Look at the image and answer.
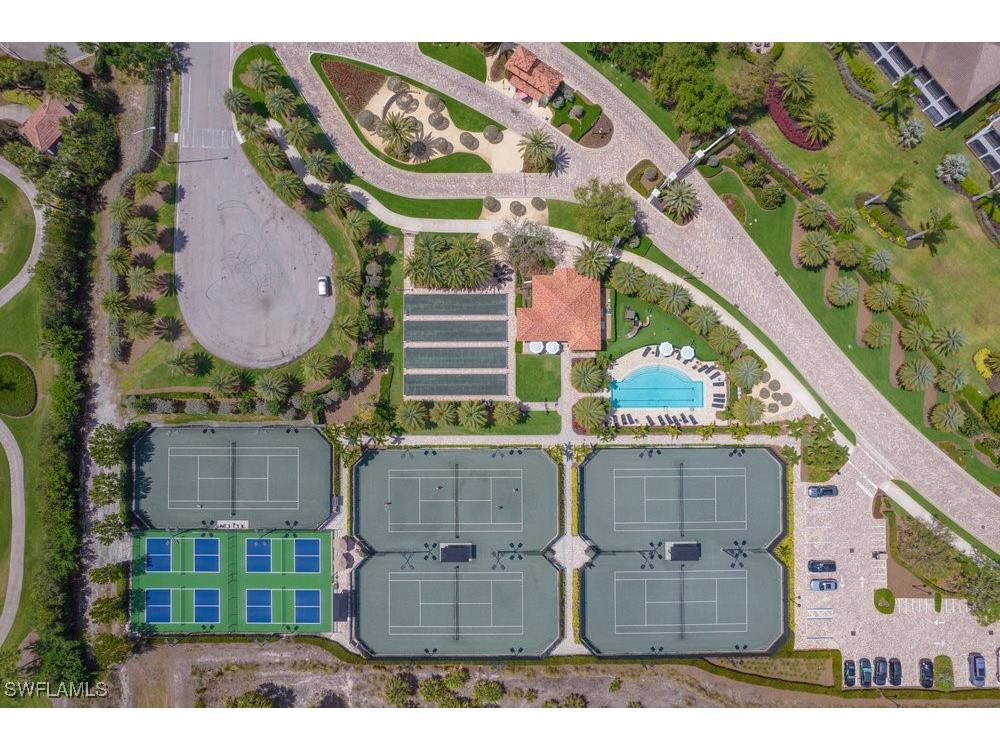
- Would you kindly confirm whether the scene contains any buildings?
Yes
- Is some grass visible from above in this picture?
Yes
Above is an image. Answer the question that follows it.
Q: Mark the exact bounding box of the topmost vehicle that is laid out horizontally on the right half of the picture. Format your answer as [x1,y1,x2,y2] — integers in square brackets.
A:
[808,484,838,498]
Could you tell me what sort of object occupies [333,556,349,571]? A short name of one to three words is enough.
umbrella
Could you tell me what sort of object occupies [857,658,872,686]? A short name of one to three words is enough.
car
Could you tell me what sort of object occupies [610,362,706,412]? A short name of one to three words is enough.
swimming pool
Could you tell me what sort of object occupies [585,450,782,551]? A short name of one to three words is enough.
tennis court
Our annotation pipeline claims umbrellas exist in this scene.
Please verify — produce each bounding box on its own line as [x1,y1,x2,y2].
[546,342,560,354]
[333,537,349,552]
[681,346,694,360]
[659,342,674,356]
[333,556,349,571]
[529,342,543,354]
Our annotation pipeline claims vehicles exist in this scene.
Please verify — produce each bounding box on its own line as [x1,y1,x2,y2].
[808,484,838,498]
[968,654,986,685]
[842,659,856,686]
[872,657,888,684]
[316,276,328,297]
[918,659,935,686]
[857,658,872,686]
[810,579,837,592]
[808,560,836,573]
[888,658,903,685]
